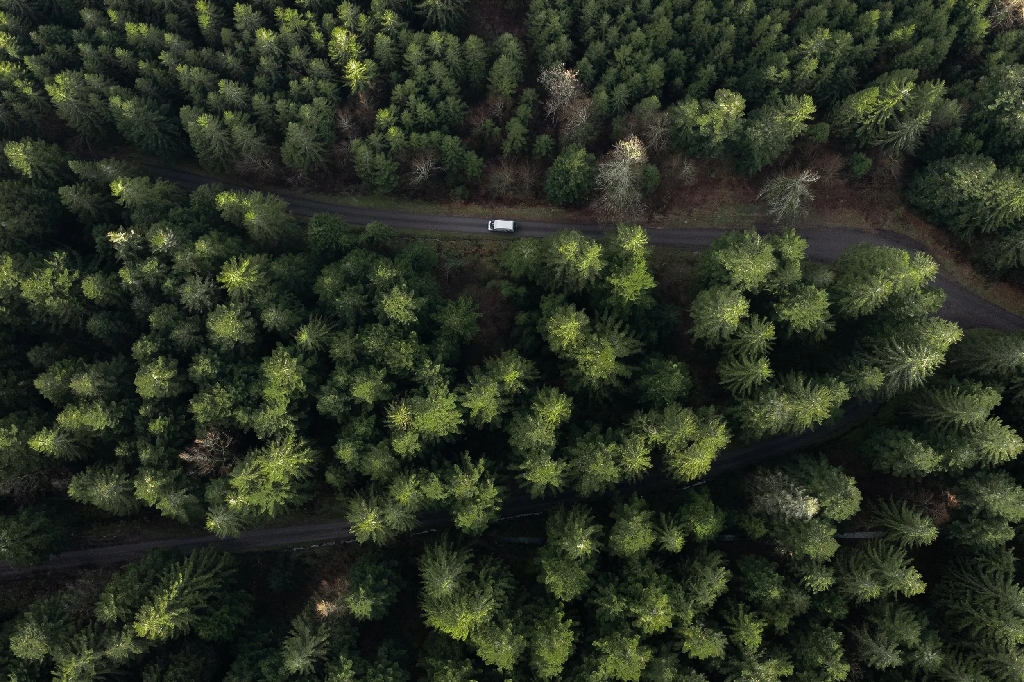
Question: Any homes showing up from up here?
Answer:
No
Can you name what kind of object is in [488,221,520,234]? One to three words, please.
vehicle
